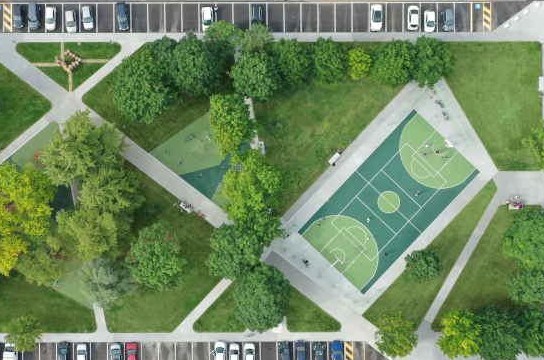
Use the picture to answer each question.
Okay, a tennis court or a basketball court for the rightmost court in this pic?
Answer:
basketball court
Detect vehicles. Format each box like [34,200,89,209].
[277,340,291,360]
[209,340,226,360]
[12,5,25,30]
[295,340,306,360]
[423,9,436,34]
[251,4,263,23]
[369,4,384,33]
[312,341,324,360]
[56,341,70,360]
[81,5,95,32]
[330,340,344,360]
[109,341,122,360]
[125,342,137,360]
[228,342,240,360]
[116,2,129,32]
[44,6,58,32]
[76,343,88,360]
[64,10,77,35]
[27,2,41,31]
[406,5,421,32]
[201,5,213,32]
[243,342,256,360]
